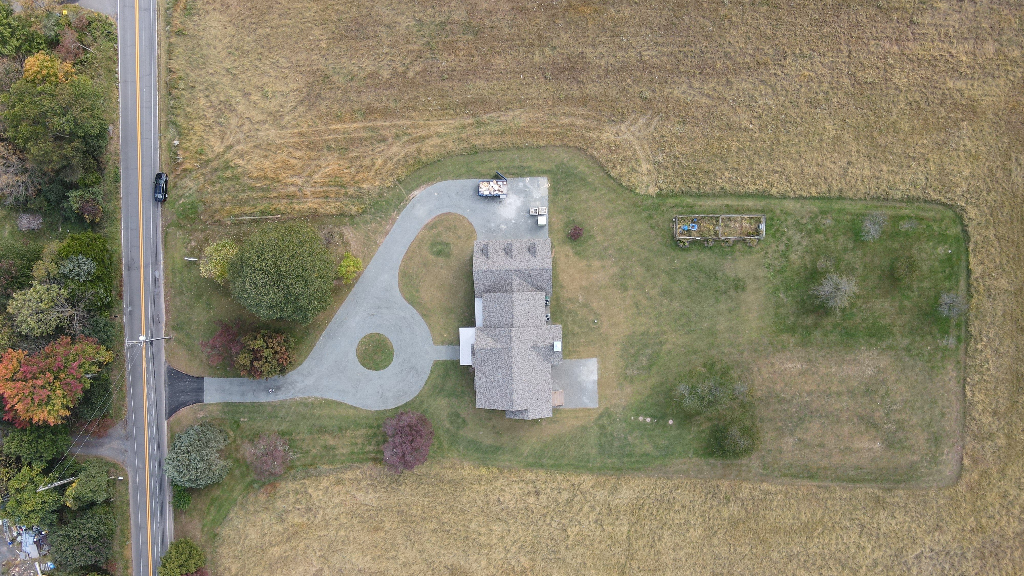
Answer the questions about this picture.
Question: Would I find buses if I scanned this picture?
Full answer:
No, this view has no bus in it.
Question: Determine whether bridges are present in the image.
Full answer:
No, no bridge is visible in the scene.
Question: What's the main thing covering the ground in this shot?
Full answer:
The largest share of the image is taken up by grass.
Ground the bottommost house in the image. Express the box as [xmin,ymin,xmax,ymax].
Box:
[459,239,563,420]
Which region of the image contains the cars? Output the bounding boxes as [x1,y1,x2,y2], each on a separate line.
[153,172,170,202]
